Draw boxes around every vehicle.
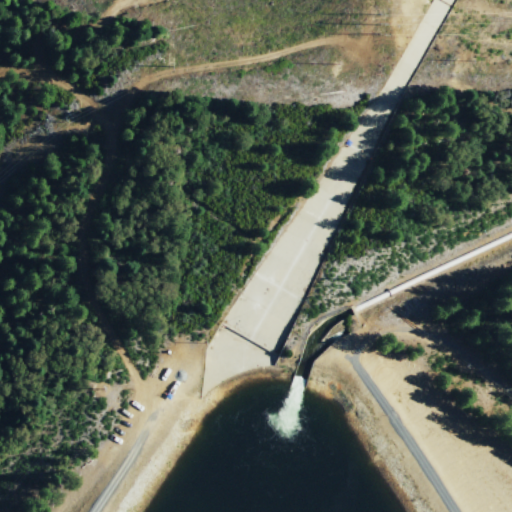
[162,367,173,382]
[110,434,124,444]
[120,420,132,428]
[131,400,145,412]
[114,427,126,436]
[121,409,134,419]
[170,380,180,394]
